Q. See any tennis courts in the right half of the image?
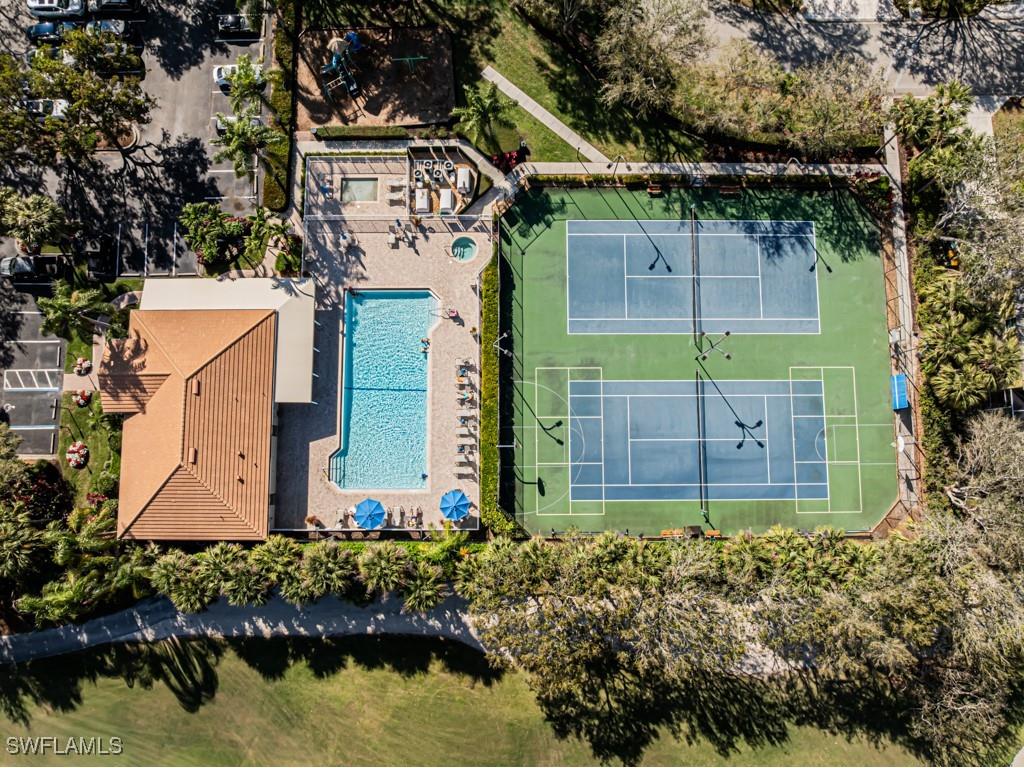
Yes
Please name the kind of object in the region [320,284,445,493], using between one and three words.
swimming pool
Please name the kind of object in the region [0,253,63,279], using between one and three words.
vehicle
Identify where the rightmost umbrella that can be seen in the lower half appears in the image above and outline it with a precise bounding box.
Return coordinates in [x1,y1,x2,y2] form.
[440,490,470,520]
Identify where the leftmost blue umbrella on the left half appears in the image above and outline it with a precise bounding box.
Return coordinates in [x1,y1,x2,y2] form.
[353,498,386,530]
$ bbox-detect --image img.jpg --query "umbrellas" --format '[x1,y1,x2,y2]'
[353,498,386,530]
[440,490,470,520]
